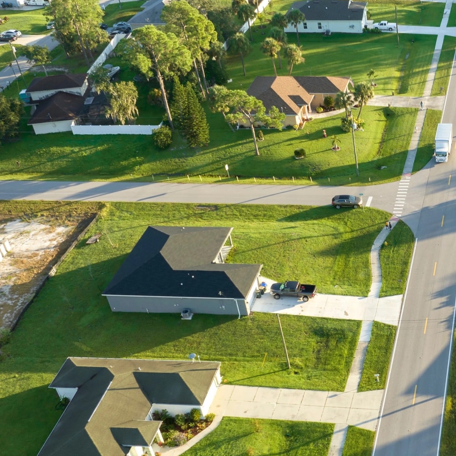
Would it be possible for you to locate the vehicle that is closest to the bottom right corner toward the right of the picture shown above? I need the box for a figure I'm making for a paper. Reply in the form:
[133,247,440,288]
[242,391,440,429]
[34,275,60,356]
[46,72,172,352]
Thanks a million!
[268,279,316,300]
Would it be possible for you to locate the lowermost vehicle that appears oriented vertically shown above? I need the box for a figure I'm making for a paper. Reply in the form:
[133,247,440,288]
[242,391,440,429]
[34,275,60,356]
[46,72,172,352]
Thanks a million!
[433,125,452,160]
